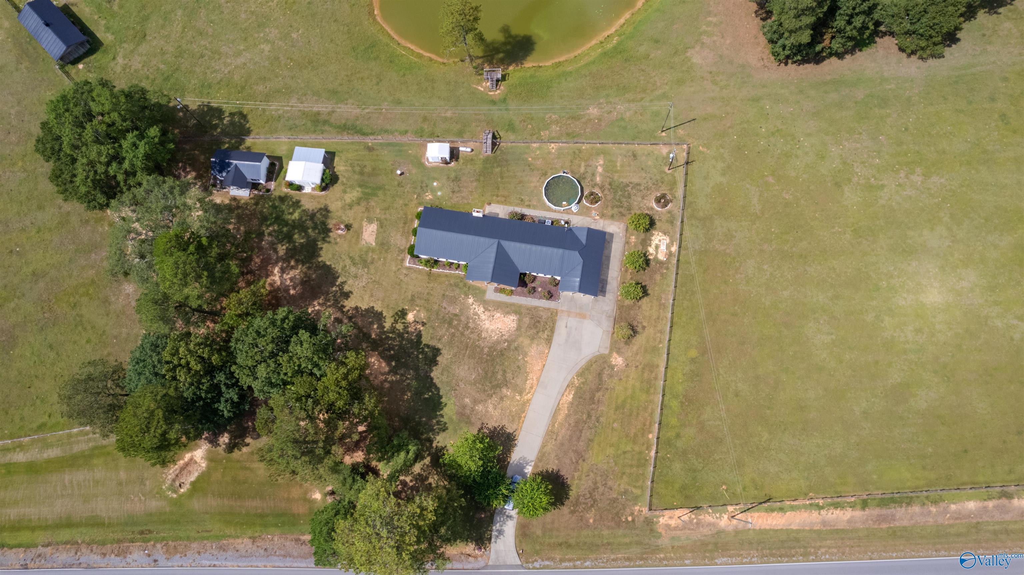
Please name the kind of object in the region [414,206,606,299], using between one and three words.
house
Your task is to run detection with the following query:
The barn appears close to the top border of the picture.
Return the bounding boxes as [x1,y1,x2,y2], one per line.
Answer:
[17,0,92,66]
